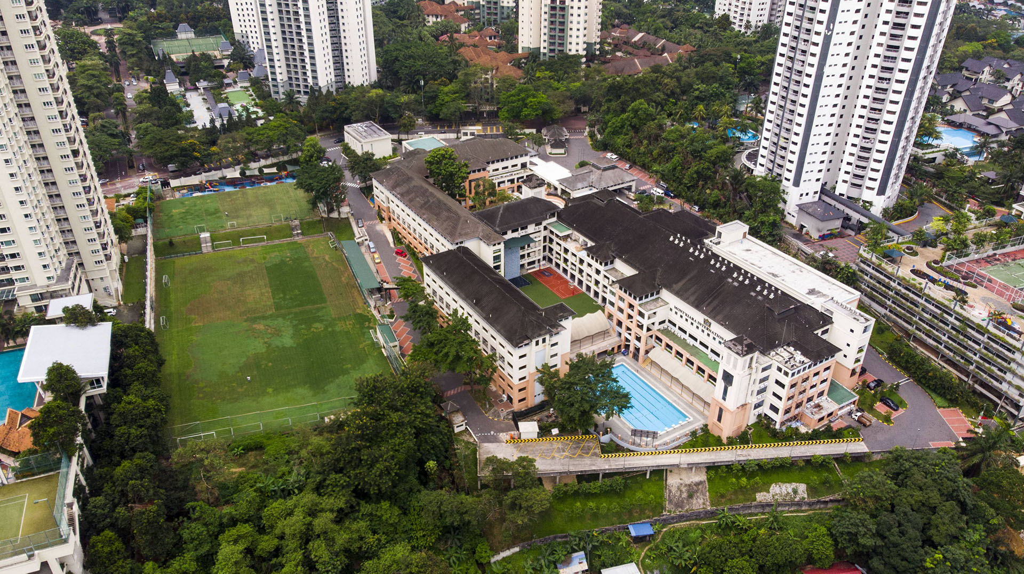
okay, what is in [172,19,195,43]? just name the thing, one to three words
building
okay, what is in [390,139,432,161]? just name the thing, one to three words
building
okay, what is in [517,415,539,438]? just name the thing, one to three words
shed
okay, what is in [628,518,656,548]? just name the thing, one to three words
shed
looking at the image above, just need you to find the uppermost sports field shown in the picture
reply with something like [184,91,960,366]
[154,179,329,242]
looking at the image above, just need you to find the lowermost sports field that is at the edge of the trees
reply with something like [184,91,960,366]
[155,235,397,443]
